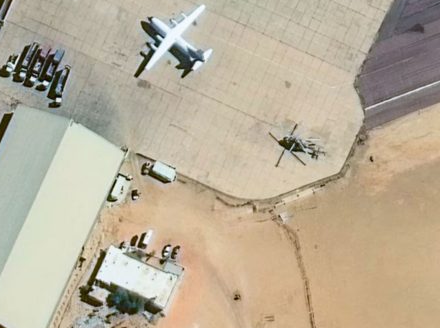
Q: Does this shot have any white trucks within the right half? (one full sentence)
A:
No, looking within the right half, there is no white truck.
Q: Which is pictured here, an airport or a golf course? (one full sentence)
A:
The area seen from above is an airport.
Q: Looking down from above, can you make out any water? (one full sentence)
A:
No, the picture contains no water.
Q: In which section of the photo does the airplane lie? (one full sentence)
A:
The airplane appears toward the top of the photo.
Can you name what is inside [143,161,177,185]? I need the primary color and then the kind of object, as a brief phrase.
white truck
